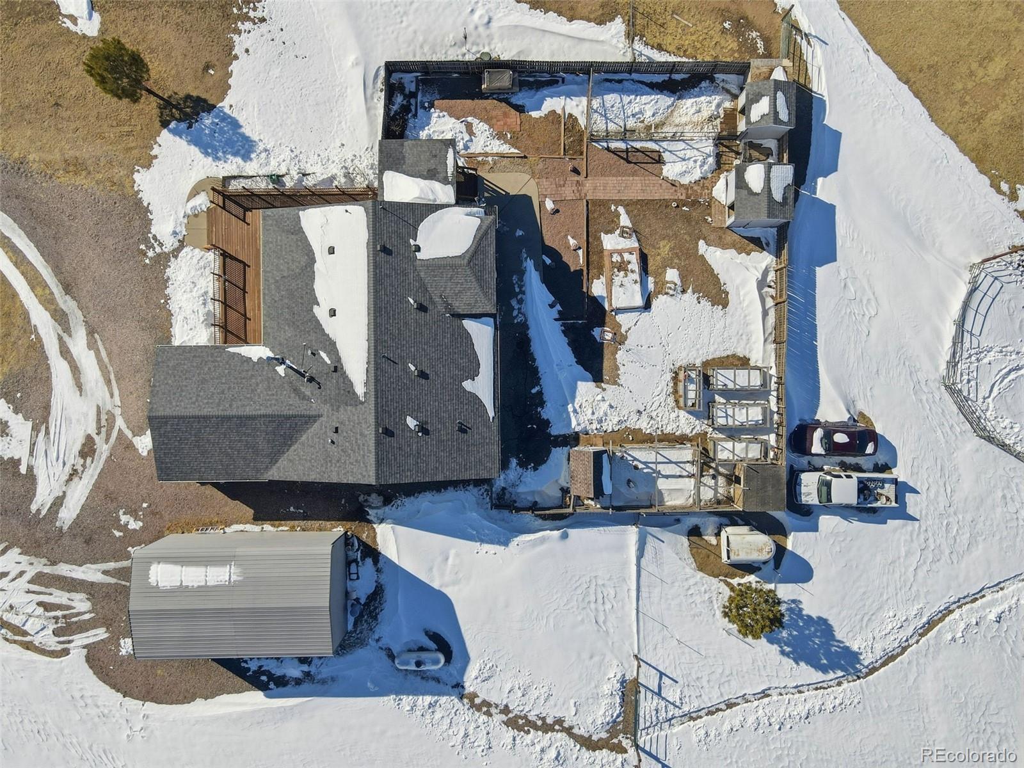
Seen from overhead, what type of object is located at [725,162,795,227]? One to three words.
shed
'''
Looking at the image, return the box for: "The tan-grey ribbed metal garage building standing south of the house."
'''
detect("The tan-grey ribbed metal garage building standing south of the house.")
[128,531,349,659]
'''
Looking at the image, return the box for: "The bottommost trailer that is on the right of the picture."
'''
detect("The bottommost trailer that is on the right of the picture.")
[716,520,781,565]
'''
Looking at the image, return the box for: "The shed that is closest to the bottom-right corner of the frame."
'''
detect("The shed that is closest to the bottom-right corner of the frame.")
[734,464,786,512]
